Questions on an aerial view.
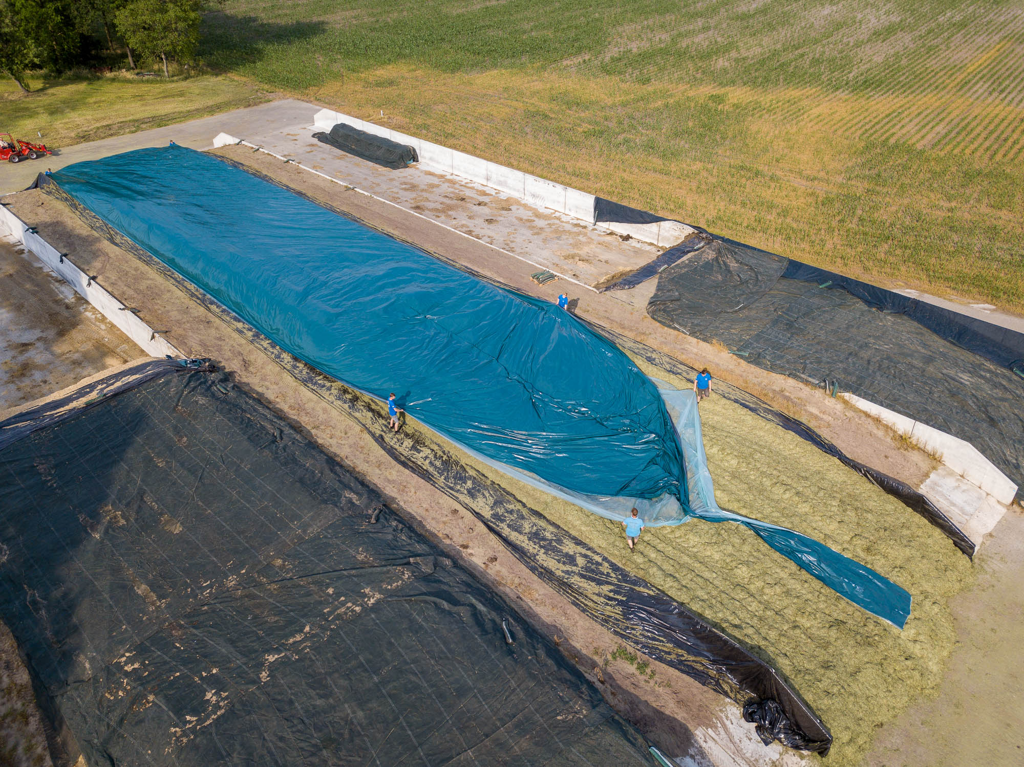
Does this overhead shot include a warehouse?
No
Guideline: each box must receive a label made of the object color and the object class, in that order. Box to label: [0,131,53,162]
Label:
red work vehicle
